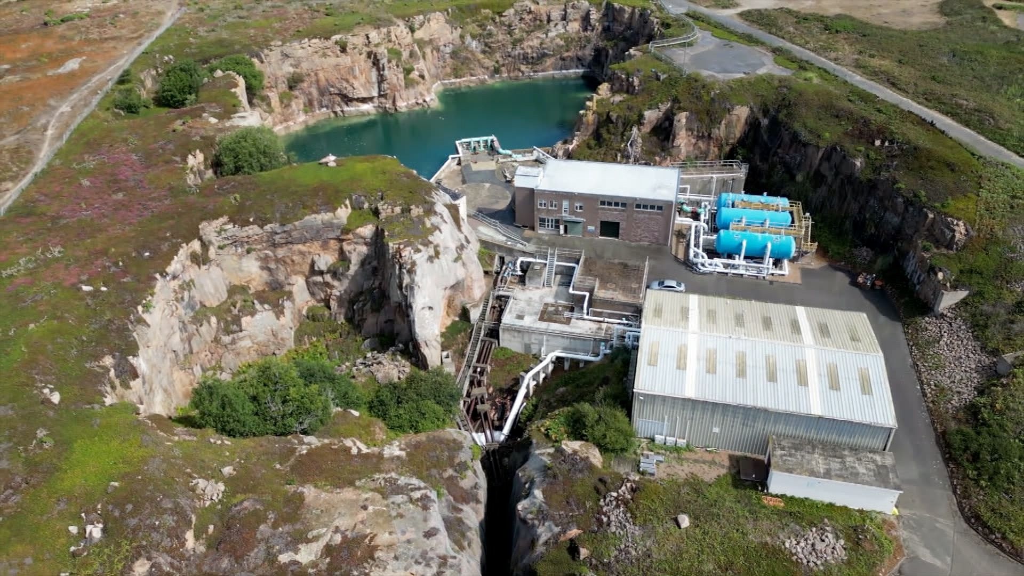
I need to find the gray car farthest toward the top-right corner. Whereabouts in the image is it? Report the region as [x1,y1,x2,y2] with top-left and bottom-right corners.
[650,275,686,292]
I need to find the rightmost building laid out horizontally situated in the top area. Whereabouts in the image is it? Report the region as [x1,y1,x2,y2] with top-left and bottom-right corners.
[514,155,682,246]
